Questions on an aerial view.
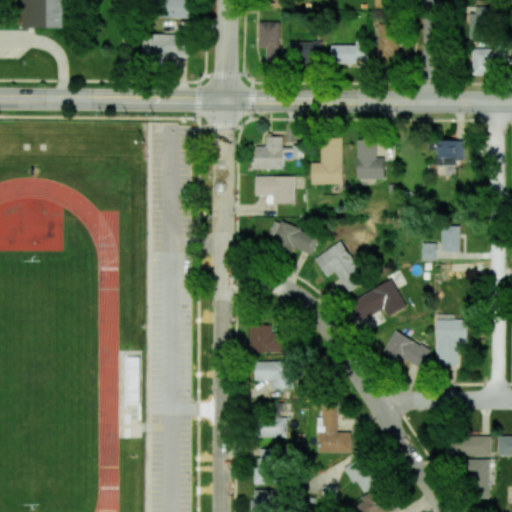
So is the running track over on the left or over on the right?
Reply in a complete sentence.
You can find the running track on the left side of the picture.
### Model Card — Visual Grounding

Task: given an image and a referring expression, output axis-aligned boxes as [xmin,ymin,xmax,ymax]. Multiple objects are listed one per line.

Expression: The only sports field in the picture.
[0,200,98,512]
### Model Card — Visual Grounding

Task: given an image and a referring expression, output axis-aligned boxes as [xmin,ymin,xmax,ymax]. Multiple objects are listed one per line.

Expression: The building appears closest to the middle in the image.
[272,220,318,258]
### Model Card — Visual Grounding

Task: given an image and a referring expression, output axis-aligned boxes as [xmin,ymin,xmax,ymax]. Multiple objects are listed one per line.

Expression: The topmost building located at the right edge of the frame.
[470,6,490,40]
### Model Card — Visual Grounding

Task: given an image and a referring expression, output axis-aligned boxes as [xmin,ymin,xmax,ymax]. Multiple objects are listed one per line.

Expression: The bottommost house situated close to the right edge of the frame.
[468,460,490,500]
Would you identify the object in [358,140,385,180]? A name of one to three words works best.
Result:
house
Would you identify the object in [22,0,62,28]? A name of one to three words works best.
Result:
building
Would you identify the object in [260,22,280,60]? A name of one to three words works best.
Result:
house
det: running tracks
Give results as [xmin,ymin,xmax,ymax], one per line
[0,178,119,512]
